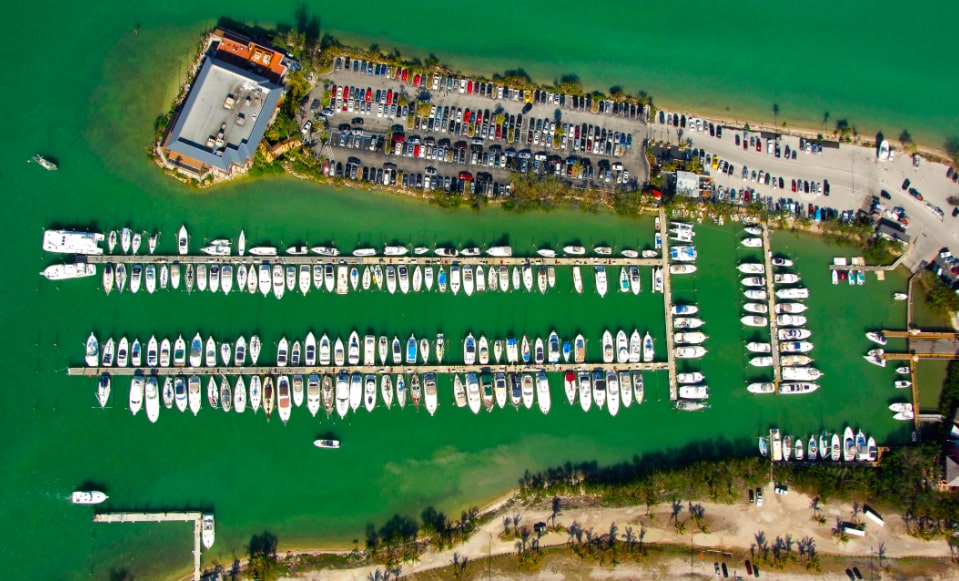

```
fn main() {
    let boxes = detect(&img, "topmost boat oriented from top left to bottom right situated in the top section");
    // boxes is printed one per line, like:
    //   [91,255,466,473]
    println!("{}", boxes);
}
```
[33,154,58,171]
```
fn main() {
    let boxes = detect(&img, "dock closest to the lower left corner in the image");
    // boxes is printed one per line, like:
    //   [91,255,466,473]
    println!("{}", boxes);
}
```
[94,510,203,581]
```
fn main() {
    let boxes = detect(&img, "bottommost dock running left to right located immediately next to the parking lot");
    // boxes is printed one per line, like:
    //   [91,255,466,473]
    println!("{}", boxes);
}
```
[67,363,668,376]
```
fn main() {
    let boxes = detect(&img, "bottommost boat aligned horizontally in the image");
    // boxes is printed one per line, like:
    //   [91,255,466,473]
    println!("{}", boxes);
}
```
[71,492,107,505]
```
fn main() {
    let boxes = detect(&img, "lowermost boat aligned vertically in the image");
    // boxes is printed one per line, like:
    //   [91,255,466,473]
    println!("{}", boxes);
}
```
[199,513,214,549]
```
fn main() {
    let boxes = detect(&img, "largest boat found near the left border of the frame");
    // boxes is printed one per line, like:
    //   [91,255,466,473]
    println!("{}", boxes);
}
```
[41,229,105,257]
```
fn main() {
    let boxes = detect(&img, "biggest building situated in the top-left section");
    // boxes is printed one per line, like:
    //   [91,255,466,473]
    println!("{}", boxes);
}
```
[158,28,288,182]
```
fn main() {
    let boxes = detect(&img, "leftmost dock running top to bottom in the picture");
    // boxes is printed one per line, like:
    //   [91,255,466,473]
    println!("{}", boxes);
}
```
[658,206,677,400]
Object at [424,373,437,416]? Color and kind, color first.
white boat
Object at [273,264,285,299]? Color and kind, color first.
white boat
